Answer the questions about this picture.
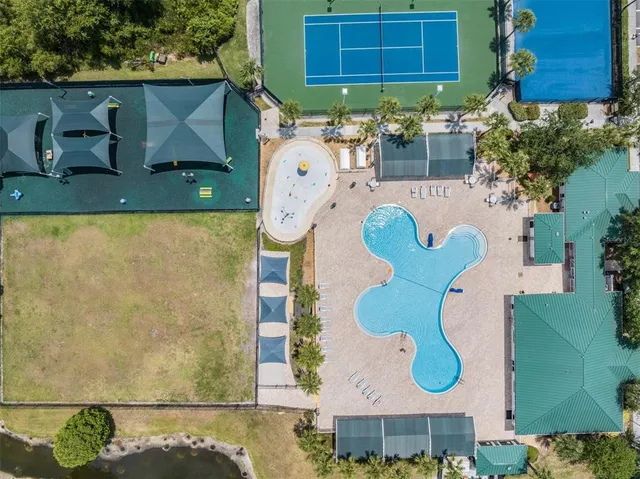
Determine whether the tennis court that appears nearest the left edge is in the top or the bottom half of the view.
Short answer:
top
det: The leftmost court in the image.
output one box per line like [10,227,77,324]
[264,0,496,101]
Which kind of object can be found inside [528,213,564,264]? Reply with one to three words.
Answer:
shed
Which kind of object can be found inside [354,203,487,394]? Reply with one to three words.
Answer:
swimming pool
